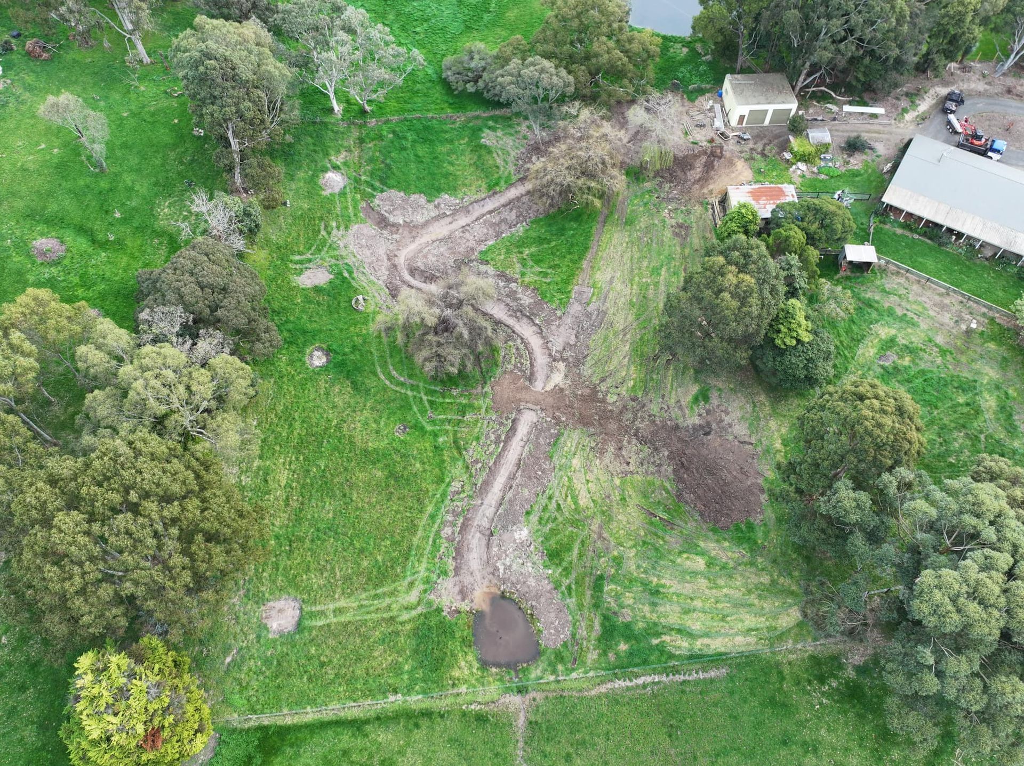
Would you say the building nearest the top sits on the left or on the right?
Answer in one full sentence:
It is on the right.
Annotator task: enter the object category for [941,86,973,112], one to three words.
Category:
truck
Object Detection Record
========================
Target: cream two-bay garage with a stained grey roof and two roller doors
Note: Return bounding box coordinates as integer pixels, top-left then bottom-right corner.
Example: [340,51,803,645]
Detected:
[723,72,799,129]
